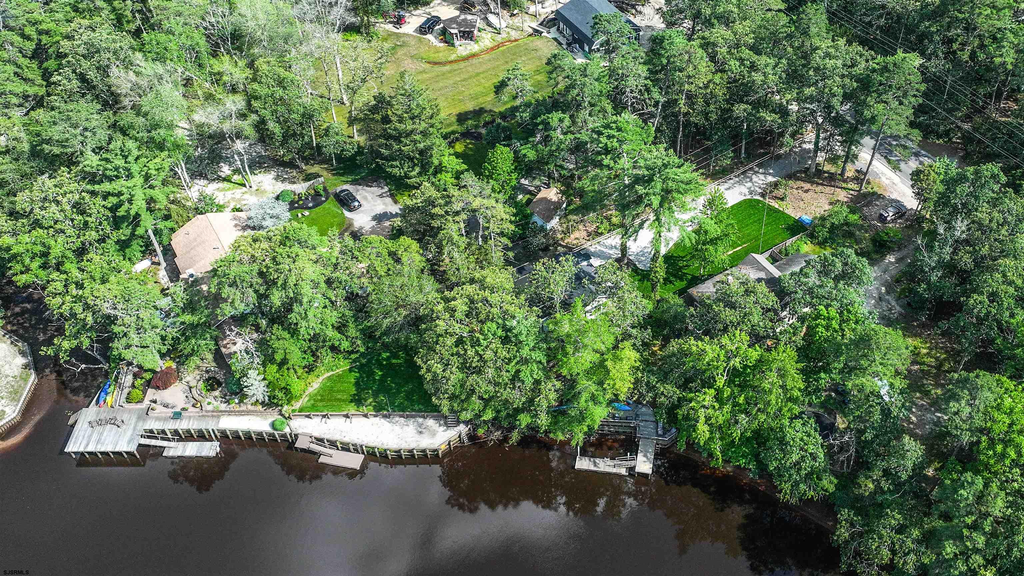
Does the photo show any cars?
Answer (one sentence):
Yes, a car appears in the view.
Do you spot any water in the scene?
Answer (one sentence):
Yes, the picture does contain water.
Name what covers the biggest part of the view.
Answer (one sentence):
The largest share of the image is taken up by trees.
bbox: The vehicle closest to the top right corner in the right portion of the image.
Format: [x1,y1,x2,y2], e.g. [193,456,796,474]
[880,204,908,223]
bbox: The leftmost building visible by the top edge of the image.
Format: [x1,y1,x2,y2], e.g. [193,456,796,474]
[442,13,479,44]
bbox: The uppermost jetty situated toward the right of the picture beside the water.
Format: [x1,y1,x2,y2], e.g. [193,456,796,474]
[636,409,678,449]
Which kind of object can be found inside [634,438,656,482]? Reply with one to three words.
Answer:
pier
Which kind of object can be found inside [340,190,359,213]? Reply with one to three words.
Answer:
car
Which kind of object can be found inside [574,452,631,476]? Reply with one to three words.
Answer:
pier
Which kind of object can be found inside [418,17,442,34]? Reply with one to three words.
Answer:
car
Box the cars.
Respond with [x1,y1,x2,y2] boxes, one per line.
[418,17,442,34]
[880,204,908,223]
[340,190,359,213]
